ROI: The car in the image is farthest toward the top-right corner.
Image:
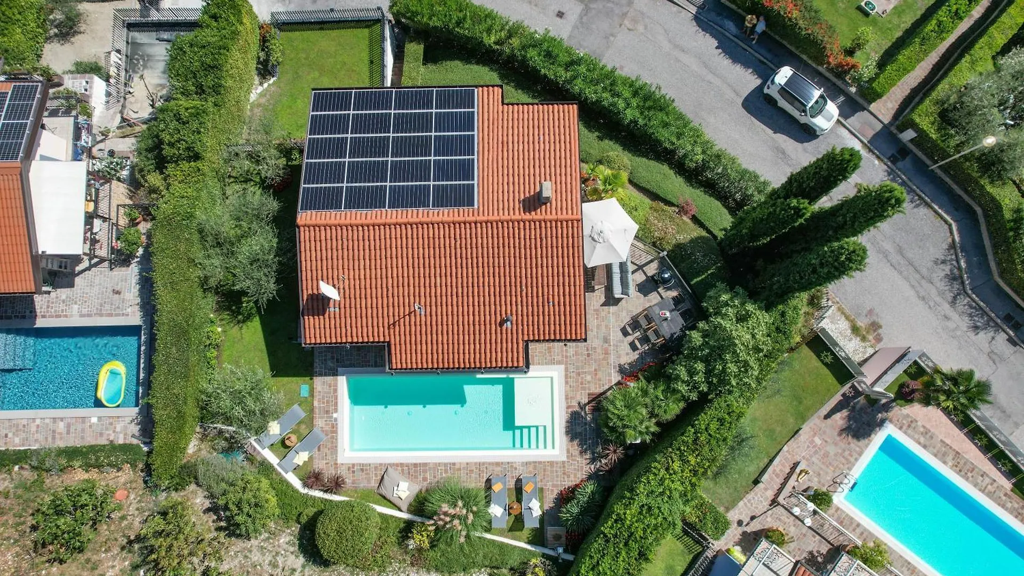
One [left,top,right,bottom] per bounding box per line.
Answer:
[757,65,844,143]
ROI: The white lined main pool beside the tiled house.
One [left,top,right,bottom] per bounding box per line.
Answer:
[349,375,554,452]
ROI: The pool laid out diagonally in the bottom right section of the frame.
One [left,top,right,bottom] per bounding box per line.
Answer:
[844,434,1024,576]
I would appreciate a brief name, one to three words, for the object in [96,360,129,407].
boat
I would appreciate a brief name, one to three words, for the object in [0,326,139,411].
swimming pool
